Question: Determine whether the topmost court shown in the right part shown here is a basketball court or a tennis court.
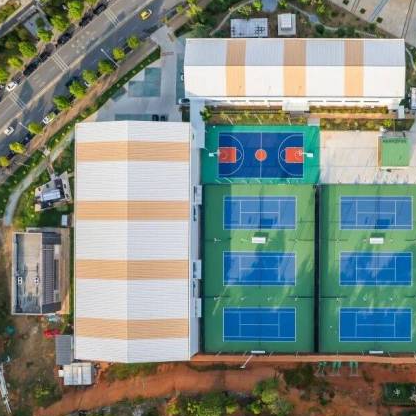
basketball court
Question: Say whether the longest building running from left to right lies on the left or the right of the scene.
right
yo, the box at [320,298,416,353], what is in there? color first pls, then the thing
green tennis court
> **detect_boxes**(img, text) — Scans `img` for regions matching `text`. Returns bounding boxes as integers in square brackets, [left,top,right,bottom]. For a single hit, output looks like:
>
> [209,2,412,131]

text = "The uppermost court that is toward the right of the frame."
[201,125,319,183]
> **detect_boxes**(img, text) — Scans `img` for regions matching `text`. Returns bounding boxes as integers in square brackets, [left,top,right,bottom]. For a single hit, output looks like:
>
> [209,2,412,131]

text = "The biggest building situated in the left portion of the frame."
[74,120,204,365]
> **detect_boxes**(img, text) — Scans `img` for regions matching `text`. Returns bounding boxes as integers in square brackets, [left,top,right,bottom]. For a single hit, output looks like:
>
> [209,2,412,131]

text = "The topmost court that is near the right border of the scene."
[320,184,416,240]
